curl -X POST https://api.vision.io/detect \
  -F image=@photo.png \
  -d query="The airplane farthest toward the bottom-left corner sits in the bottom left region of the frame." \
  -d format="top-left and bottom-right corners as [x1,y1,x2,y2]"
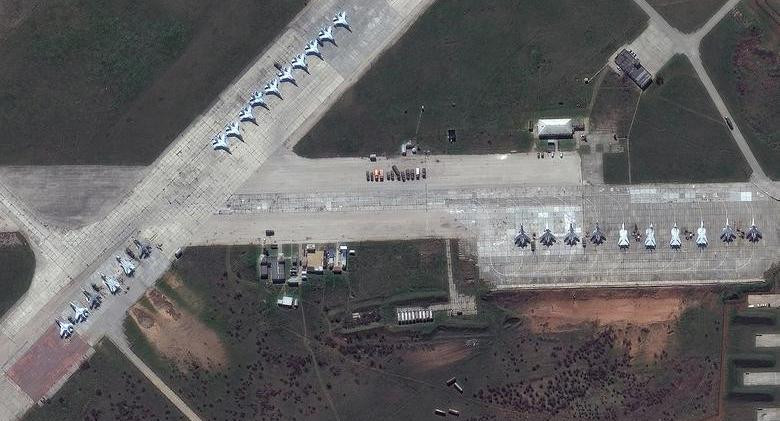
[56,321,76,340]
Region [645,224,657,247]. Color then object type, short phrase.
white airplane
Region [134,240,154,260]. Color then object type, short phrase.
gray airplane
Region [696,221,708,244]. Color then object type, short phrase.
white airplane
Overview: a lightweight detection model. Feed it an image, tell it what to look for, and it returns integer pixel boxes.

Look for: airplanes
[82,289,103,309]
[696,221,708,244]
[277,64,296,82]
[331,10,350,28]
[71,304,90,323]
[721,219,736,241]
[540,225,555,247]
[238,102,257,122]
[645,224,657,247]
[248,87,268,105]
[289,51,309,72]
[617,223,630,246]
[564,225,579,247]
[101,275,120,293]
[224,119,244,138]
[670,225,682,247]
[56,321,76,340]
[117,257,136,276]
[590,223,606,246]
[318,24,336,43]
[211,131,231,150]
[514,224,530,247]
[134,240,154,260]
[263,76,281,97]
[746,218,762,241]
[303,37,324,57]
